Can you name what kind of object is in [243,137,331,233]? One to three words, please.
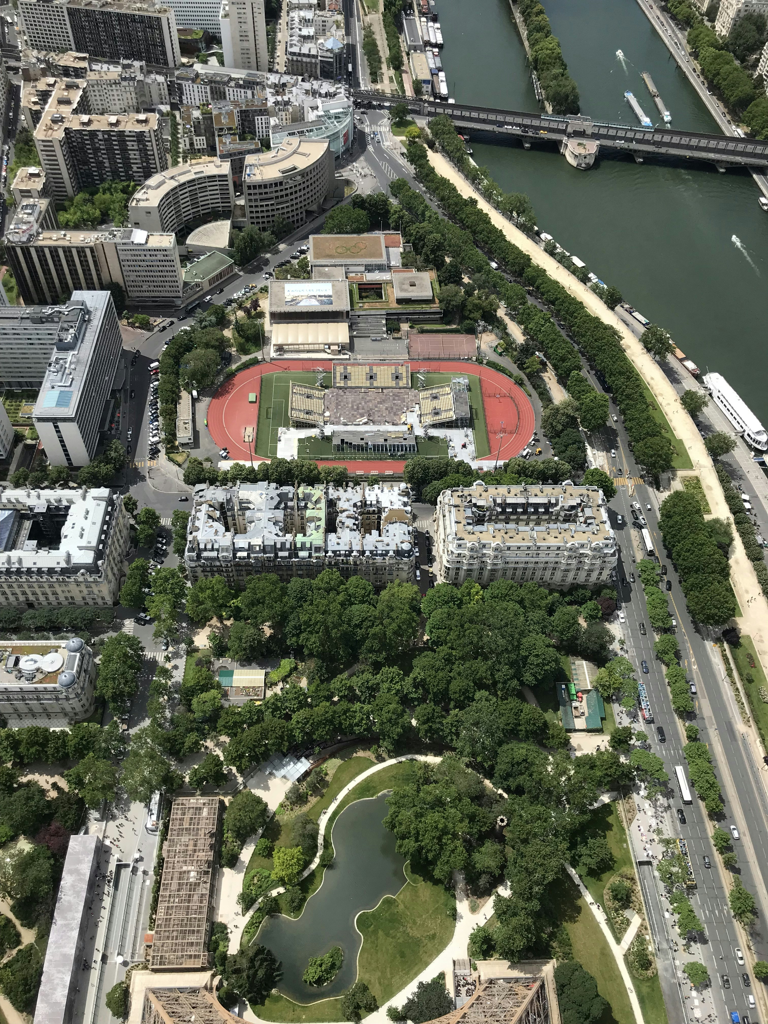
building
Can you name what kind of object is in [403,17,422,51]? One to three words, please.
shed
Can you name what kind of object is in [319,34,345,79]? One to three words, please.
building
